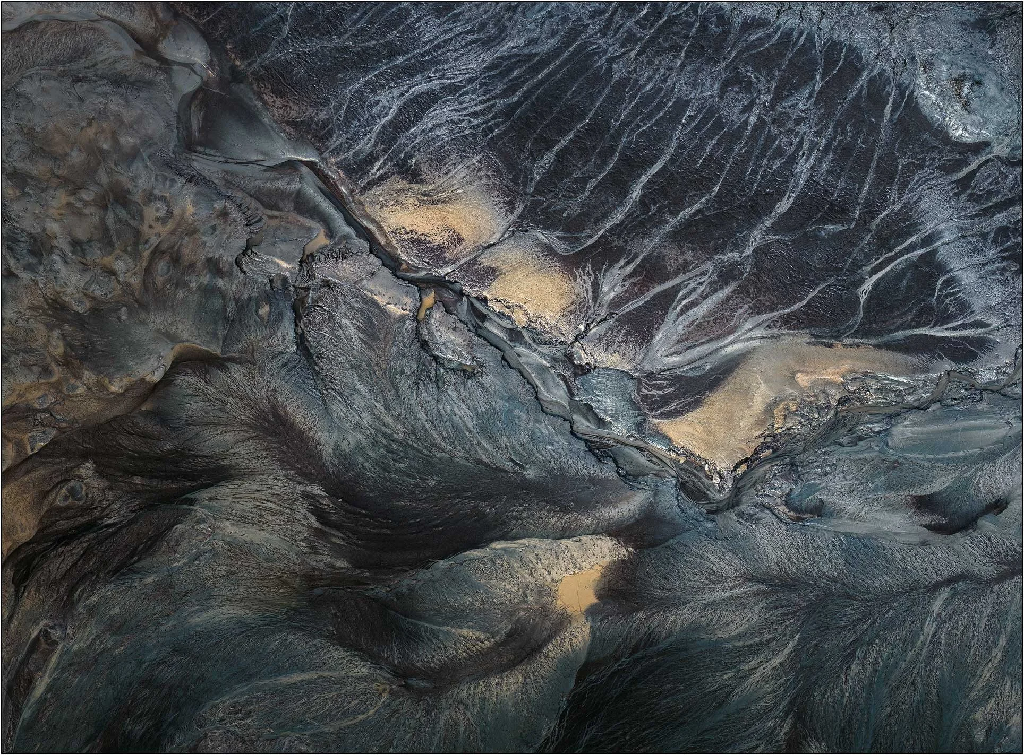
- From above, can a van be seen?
No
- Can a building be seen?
Yes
